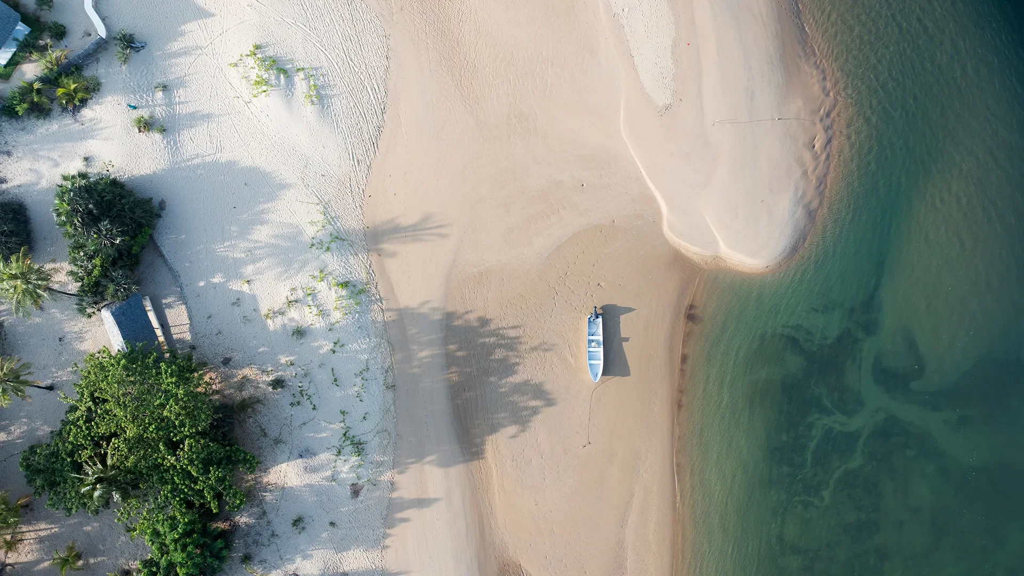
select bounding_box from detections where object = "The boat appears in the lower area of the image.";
[588,317,605,383]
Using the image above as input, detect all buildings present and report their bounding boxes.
[0,3,22,59]
[90,293,171,368]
